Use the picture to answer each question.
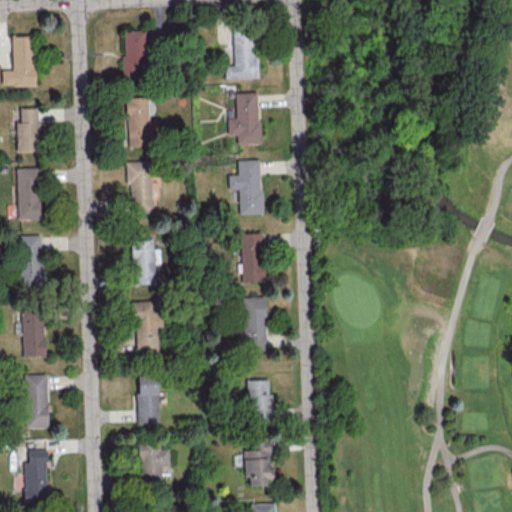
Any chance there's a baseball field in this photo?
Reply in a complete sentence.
No, the picture doesn't show any baseball field.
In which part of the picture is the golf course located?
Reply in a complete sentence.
The golf course sits in the right section of the image.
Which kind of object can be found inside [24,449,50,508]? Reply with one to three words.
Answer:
house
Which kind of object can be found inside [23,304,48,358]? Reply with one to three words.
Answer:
house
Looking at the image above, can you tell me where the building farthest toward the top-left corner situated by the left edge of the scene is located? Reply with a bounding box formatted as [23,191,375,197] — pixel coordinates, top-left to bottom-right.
[2,36,37,87]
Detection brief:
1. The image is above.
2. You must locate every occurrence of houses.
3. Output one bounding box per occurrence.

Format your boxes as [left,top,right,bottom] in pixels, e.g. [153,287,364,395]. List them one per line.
[244,444,276,488]
[122,31,147,84]
[135,302,164,352]
[128,98,148,149]
[132,238,156,286]
[17,107,40,153]
[126,162,154,216]
[248,379,273,422]
[230,160,264,216]
[227,28,262,80]
[244,297,268,354]
[16,168,43,220]
[24,449,50,508]
[23,304,48,358]
[20,234,42,288]
[2,36,37,87]
[138,446,171,480]
[138,377,160,426]
[26,375,50,430]
[242,234,266,282]
[229,93,262,145]
[254,504,277,512]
